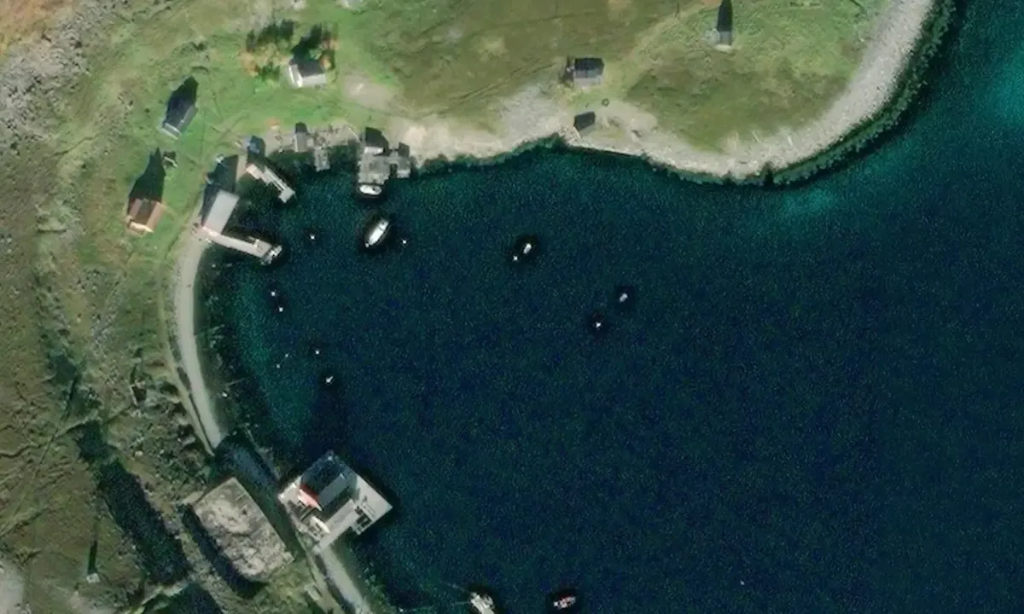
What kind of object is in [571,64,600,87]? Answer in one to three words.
building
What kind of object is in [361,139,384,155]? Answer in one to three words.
shed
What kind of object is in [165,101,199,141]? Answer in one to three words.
house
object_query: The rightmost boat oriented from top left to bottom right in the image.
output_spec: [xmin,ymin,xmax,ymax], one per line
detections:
[474,592,497,614]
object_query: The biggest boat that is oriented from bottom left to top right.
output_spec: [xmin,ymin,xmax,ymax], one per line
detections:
[368,217,392,244]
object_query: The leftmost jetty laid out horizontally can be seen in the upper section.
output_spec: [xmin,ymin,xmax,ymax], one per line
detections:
[197,230,272,259]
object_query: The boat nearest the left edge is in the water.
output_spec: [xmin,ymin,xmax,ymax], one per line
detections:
[262,247,282,264]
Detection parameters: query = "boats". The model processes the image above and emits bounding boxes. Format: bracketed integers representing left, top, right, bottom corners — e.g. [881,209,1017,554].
[474,592,497,614]
[360,185,385,194]
[557,595,576,606]
[524,241,533,254]
[368,217,392,244]
[262,247,282,264]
